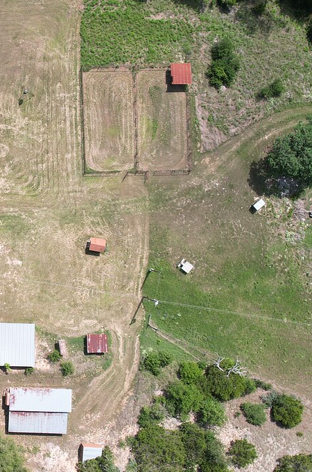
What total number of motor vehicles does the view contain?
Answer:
0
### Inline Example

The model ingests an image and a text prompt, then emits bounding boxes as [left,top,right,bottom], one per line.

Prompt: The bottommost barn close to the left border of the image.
[4,386,74,435]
